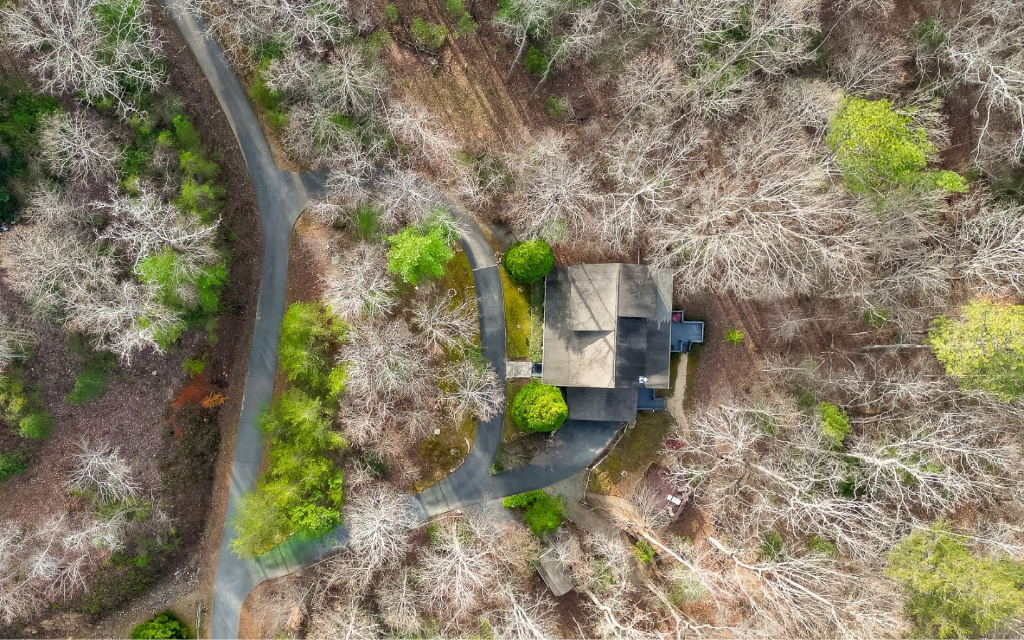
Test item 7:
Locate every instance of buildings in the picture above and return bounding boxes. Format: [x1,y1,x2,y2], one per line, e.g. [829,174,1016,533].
[540,540,585,594]
[537,260,672,421]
